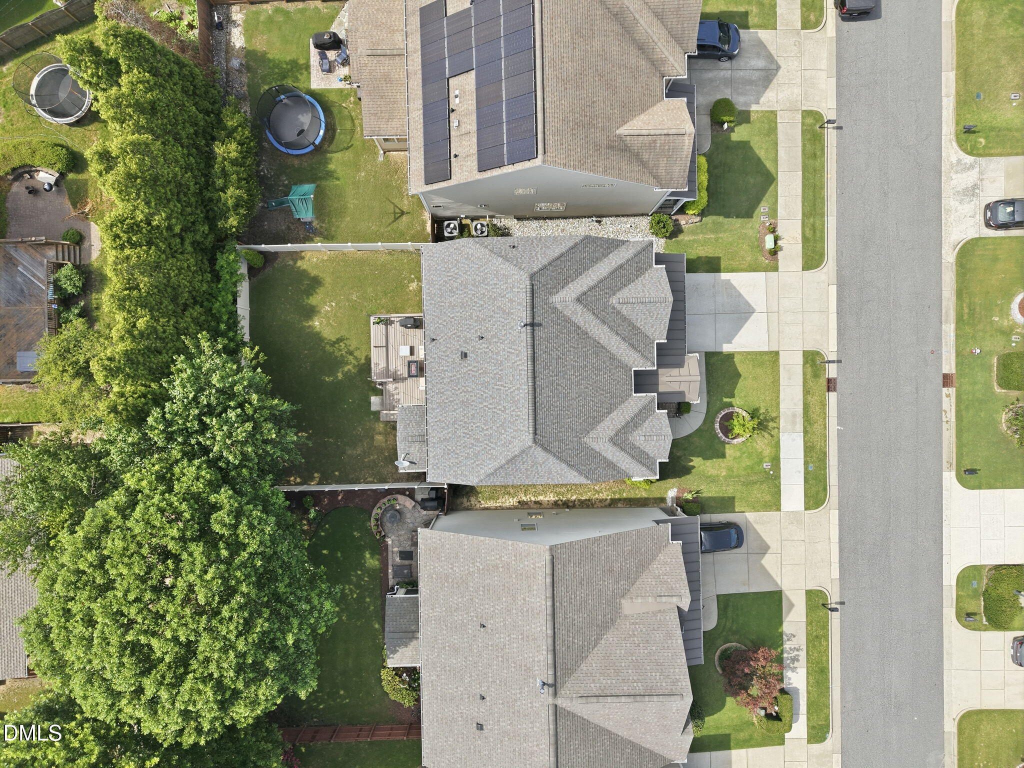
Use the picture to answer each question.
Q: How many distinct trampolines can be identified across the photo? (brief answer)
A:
2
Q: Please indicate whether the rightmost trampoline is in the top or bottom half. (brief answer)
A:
top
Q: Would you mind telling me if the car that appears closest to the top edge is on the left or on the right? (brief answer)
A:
right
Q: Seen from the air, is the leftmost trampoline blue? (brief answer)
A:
No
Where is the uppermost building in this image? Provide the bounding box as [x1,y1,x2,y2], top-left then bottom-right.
[346,0,702,220]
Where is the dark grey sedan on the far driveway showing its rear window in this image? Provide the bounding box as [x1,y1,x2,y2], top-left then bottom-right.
[984,202,1024,234]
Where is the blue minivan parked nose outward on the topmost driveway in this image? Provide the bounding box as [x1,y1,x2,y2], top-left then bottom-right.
[688,24,732,67]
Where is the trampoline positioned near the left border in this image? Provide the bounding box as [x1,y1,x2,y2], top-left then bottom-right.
[13,49,99,132]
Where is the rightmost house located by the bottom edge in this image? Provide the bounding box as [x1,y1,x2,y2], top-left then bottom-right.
[385,505,705,768]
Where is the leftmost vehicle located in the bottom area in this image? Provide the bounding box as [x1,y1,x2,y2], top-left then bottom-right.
[701,519,744,550]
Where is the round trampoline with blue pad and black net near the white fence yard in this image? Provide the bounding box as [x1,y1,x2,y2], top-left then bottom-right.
[254,79,330,160]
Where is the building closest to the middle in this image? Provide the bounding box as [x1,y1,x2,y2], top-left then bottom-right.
[370,236,702,486]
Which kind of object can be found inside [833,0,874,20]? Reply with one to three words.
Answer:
car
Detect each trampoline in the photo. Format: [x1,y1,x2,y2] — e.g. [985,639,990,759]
[254,79,330,160]
[13,49,99,132]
